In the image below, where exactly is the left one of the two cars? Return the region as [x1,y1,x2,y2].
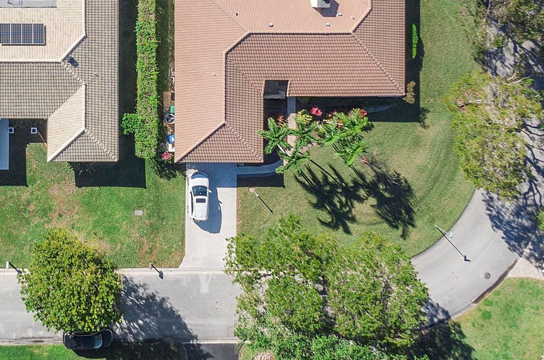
[62,330,114,359]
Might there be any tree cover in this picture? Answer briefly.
Yes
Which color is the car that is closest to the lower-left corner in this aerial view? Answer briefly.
black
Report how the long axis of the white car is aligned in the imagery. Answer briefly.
up and down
